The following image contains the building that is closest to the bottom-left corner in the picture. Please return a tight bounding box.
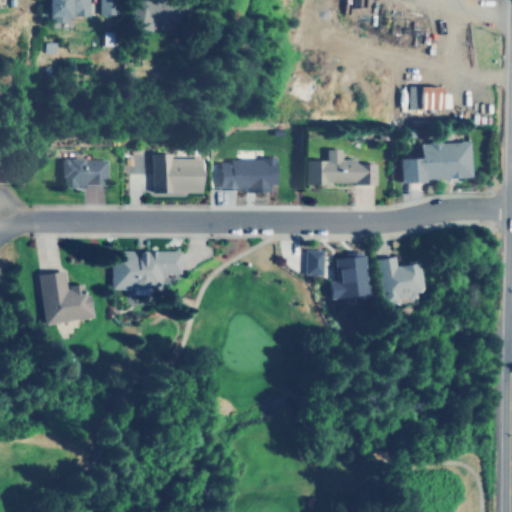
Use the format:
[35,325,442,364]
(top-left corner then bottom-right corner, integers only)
[37,270,94,325]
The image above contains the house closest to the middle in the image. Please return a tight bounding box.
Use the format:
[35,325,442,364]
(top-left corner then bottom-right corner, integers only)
[306,250,324,276]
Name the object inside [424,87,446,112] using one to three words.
shed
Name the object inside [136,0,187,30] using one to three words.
house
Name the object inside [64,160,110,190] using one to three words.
house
